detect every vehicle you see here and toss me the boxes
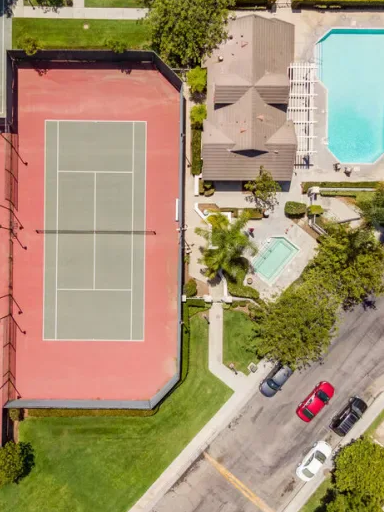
[295,441,331,483]
[329,396,369,439]
[296,381,334,423]
[258,360,297,397]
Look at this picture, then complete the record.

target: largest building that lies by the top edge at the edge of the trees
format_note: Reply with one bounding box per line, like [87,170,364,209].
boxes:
[200,13,297,181]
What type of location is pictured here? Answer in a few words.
sports ground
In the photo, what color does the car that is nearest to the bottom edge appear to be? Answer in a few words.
white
